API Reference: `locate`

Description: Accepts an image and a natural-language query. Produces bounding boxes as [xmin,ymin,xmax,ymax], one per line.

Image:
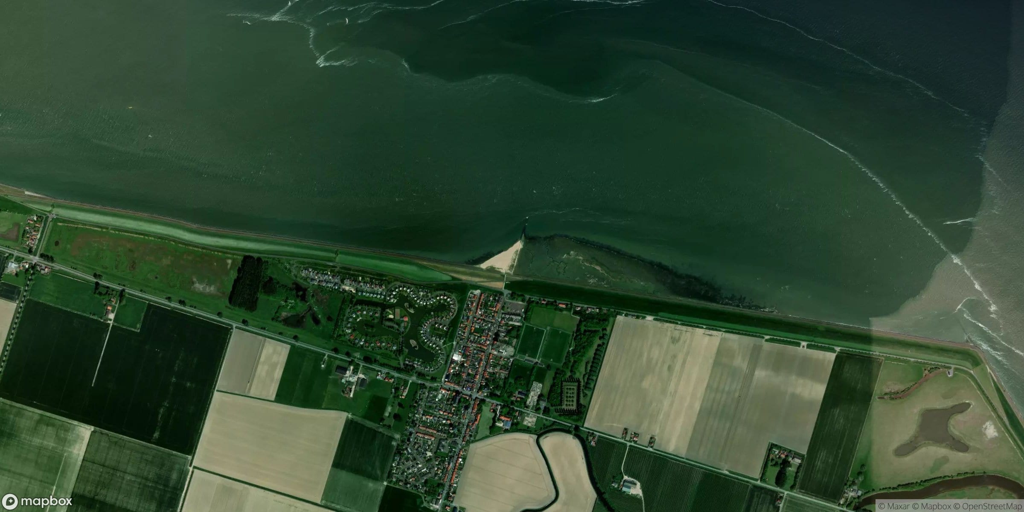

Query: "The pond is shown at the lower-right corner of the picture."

[895,402,971,456]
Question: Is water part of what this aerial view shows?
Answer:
Yes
